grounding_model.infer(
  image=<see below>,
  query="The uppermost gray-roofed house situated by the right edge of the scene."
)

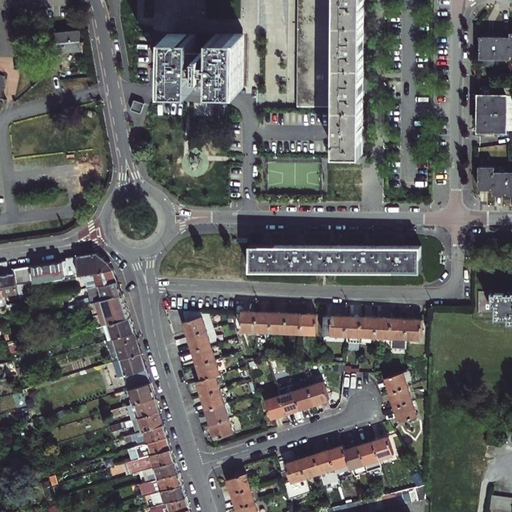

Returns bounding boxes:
[480,31,512,60]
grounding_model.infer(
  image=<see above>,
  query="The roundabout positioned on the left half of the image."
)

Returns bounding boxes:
[102,184,174,257]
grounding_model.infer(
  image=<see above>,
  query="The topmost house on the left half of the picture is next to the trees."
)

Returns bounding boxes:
[55,31,82,54]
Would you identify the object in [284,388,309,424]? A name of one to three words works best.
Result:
house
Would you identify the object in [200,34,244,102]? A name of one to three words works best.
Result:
building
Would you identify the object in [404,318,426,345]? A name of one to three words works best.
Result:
house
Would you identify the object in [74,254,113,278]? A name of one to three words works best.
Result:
building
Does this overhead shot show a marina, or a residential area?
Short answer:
residential area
